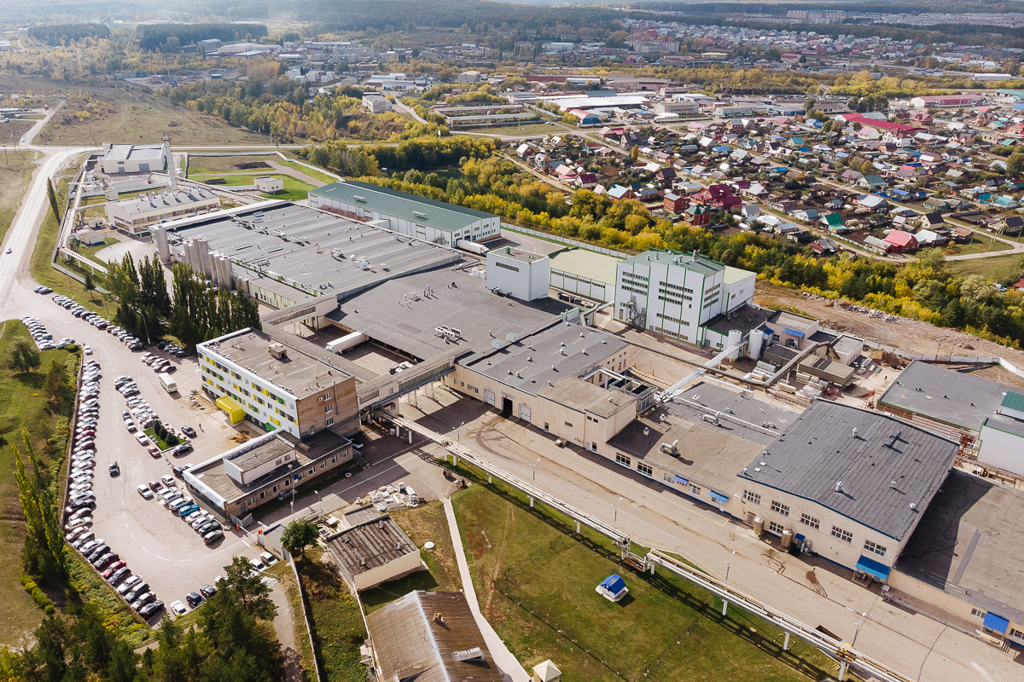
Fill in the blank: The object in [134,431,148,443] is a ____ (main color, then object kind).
white vehicle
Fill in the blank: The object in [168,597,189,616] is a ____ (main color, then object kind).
white car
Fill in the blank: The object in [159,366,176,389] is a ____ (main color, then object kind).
white vehicle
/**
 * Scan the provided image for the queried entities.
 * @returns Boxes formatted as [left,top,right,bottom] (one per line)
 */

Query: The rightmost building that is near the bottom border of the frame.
[883,467,1024,660]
